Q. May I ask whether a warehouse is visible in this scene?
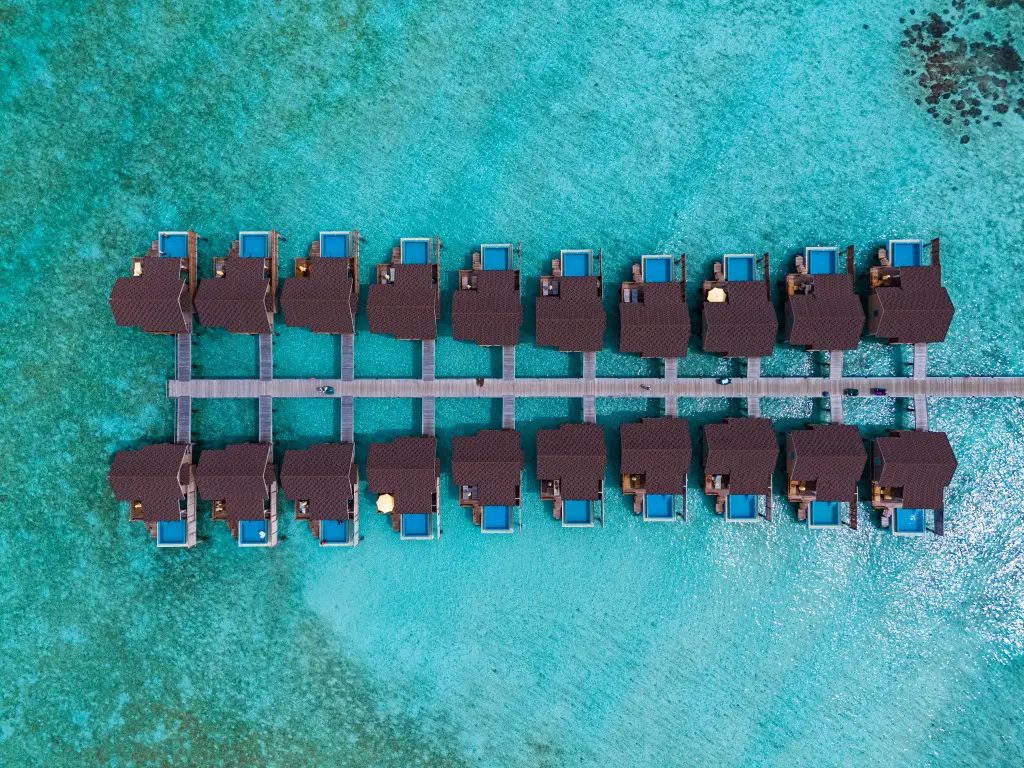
No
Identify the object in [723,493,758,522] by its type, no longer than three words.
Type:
swimming pool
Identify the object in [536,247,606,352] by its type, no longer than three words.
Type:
house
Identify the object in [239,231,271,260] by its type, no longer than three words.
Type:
swimming pool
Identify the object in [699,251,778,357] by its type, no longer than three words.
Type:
house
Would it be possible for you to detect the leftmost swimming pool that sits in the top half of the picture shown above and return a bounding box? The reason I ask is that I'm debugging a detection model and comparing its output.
[159,232,188,260]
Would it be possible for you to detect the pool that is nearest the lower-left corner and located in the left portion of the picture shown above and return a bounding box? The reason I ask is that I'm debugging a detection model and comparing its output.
[157,518,187,547]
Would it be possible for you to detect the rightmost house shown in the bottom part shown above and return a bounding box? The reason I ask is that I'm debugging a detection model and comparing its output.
[864,433,957,538]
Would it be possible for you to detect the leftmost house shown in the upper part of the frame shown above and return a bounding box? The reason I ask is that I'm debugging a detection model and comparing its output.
[108,228,208,334]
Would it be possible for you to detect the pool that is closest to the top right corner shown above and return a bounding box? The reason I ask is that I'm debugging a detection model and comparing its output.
[885,240,921,269]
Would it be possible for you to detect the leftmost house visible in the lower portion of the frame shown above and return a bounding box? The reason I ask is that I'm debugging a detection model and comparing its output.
[107,444,206,550]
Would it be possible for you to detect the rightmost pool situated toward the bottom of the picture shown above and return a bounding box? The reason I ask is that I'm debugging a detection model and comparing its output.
[888,507,924,536]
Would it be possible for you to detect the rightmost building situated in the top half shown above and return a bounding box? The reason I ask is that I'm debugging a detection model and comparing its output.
[861,237,954,342]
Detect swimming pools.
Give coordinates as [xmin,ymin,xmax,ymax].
[561,250,593,277]
[805,500,841,528]
[723,493,758,522]
[888,507,924,536]
[320,231,353,260]
[401,238,434,267]
[640,255,673,284]
[401,511,434,540]
[642,492,675,521]
[481,244,513,271]
[239,231,271,260]
[159,232,188,260]
[319,517,353,546]
[481,506,513,533]
[157,518,187,547]
[722,254,756,283]
[562,500,594,527]
[239,517,270,546]
[885,240,921,269]
[802,247,838,276]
